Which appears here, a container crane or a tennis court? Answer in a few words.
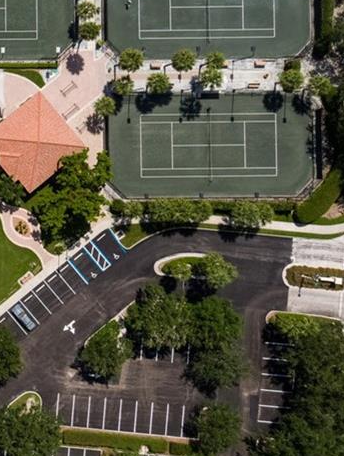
tennis court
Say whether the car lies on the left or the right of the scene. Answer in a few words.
left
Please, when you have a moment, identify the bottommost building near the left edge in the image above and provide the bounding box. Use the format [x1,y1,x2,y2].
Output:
[0,91,88,193]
